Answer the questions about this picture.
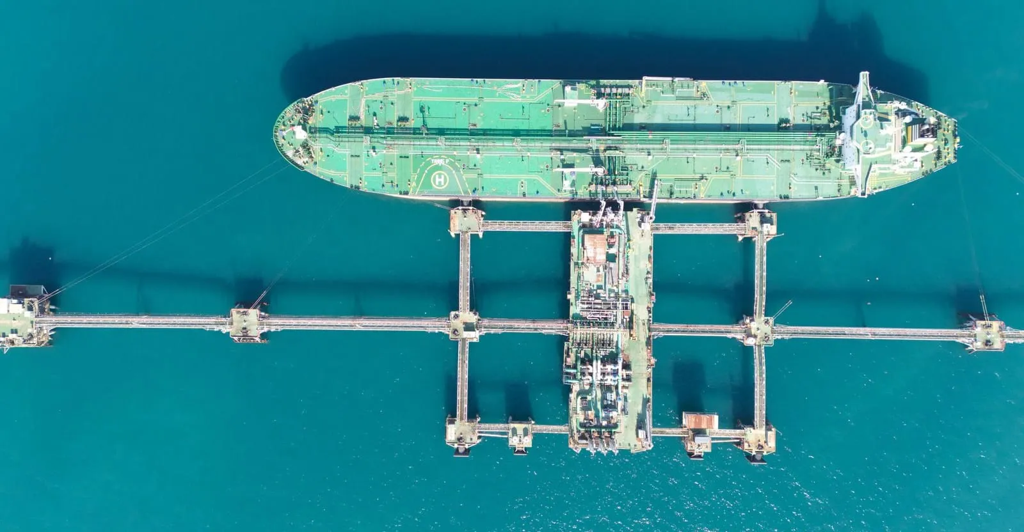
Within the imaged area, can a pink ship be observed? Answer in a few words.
No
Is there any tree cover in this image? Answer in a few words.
No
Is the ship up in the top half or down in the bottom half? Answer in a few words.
top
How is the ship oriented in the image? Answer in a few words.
from side to side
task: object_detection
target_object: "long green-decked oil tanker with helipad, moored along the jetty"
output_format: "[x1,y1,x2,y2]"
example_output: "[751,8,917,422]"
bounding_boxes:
[273,70,962,202]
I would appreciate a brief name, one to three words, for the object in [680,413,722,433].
shed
